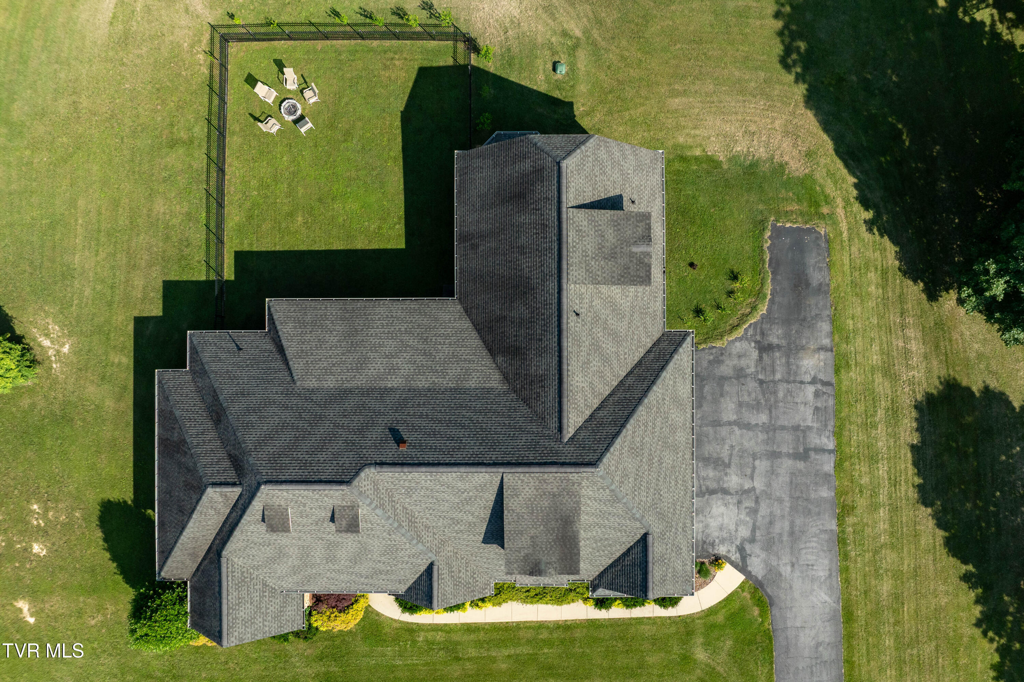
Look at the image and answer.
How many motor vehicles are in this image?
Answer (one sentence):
The photo contains no motor vehicles.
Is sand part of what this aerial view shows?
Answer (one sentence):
No, the scene doesn't show any sand.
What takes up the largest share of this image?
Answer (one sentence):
The largest share of the image is taken up by grass.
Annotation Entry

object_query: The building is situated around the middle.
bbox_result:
[155,130,695,647]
